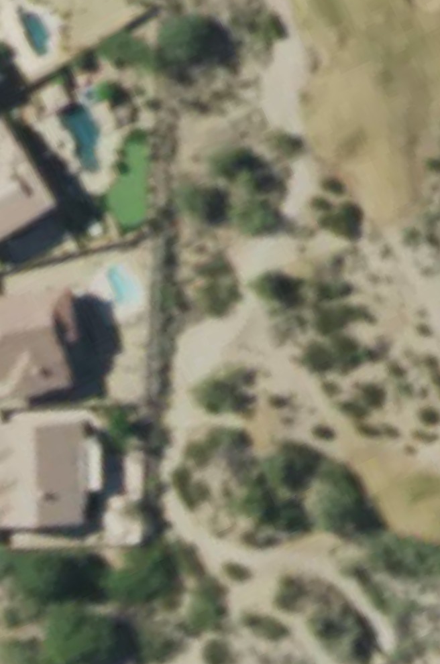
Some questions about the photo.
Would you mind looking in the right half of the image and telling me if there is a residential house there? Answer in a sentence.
No, there is no residential house in the right half of the image.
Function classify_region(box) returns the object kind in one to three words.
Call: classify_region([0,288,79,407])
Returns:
house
